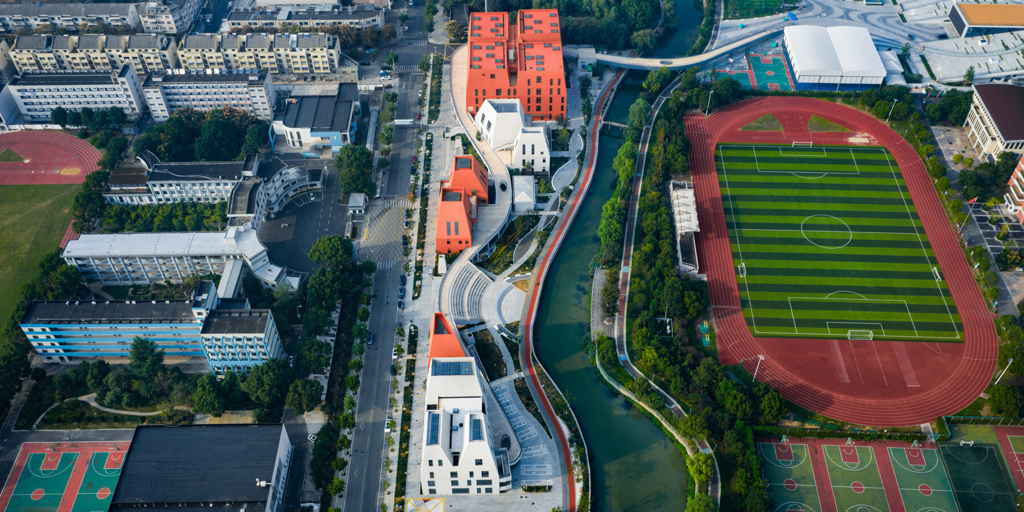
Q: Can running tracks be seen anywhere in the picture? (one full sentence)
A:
Yes, a running track appears in the view.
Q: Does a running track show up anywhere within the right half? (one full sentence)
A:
Yes, a running track can be seen within the right half.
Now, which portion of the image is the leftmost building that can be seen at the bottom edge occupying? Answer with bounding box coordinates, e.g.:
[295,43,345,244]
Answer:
[106,424,291,512]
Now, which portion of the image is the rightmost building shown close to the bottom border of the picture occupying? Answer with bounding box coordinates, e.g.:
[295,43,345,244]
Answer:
[420,357,511,494]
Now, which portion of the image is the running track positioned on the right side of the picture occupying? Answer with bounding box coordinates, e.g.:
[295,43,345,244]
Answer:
[682,97,1000,428]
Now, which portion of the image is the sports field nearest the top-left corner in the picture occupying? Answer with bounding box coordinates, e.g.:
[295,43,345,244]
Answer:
[0,184,85,320]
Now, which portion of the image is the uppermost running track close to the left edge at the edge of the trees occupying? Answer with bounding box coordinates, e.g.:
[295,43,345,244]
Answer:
[0,131,99,184]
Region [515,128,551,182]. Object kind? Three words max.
building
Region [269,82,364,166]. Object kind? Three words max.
building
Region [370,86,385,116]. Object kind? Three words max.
shed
